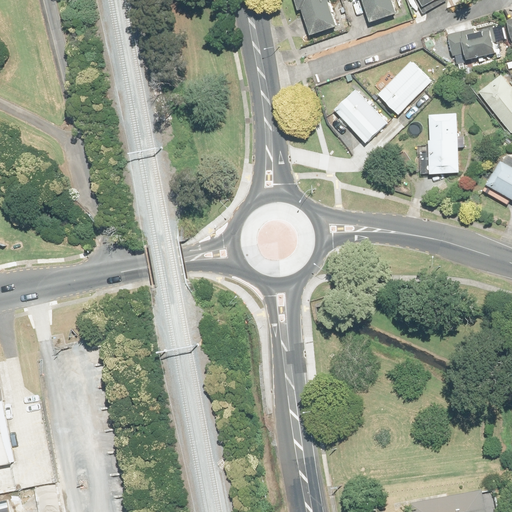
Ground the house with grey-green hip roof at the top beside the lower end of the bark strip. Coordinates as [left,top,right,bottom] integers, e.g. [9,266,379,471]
[294,0,334,34]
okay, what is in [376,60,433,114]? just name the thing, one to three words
house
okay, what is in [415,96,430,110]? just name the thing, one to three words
vehicle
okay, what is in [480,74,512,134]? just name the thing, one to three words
house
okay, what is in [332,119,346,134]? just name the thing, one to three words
car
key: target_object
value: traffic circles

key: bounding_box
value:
[228,190,328,290]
